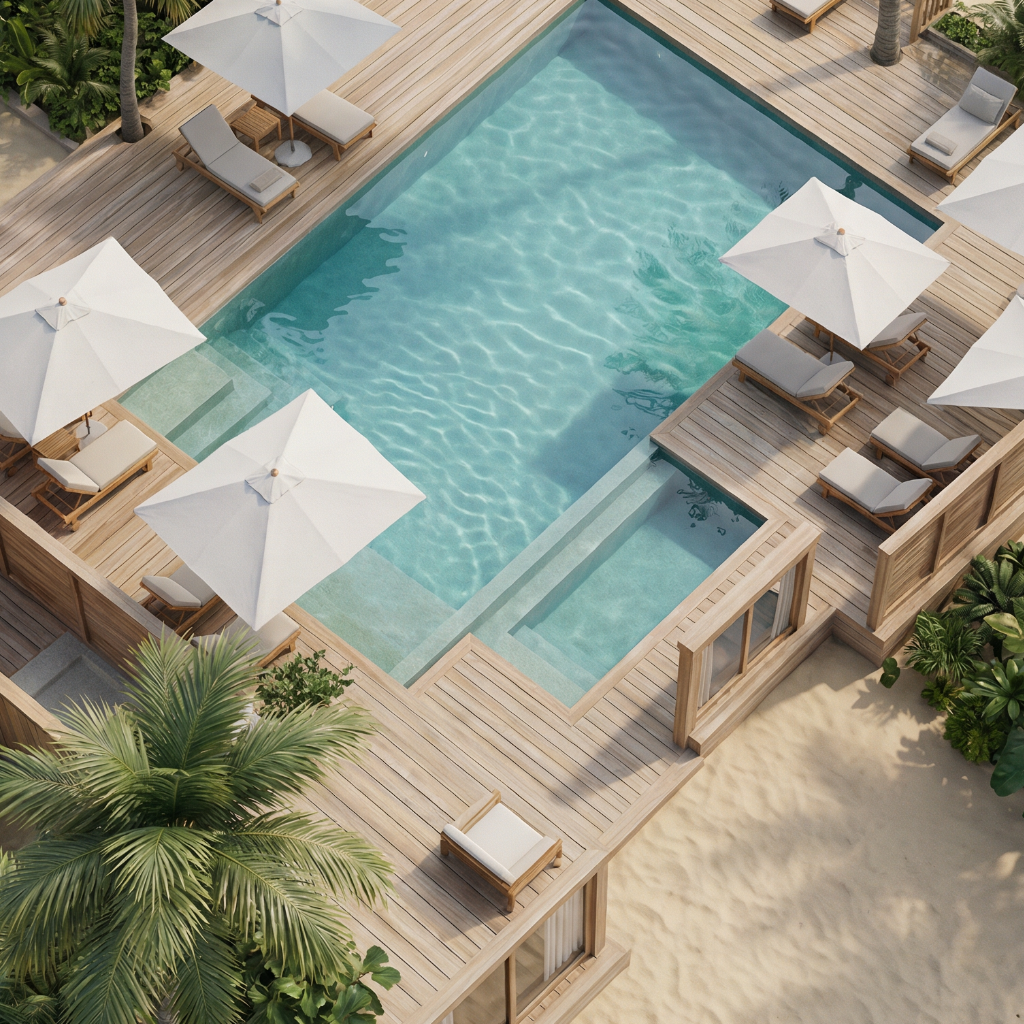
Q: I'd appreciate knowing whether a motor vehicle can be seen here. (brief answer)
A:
No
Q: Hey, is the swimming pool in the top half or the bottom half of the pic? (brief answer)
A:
top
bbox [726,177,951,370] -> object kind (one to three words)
umbrella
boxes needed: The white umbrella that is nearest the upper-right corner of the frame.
[931,124,1024,266]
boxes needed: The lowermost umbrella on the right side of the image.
[926,297,1024,445]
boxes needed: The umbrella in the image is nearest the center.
[136,389,427,626]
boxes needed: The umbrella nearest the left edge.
[0,236,207,448]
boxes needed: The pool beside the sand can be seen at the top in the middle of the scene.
[113,0,942,524]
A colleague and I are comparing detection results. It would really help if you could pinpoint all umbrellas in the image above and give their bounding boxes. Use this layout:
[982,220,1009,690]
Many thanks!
[0,236,207,448]
[136,389,427,626]
[931,124,1024,266]
[926,297,1024,445]
[164,0,399,169]
[726,177,951,370]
